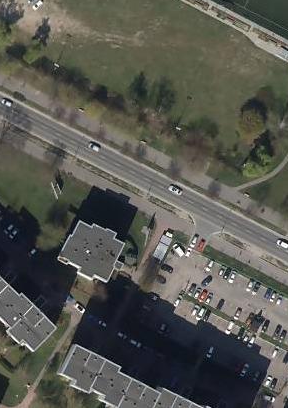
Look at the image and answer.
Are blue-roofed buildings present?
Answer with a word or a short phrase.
No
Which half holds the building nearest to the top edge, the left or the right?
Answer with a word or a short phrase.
left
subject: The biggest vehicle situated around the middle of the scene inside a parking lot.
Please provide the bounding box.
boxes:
[156,232,172,260]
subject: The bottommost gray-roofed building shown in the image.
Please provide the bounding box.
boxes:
[56,345,202,408]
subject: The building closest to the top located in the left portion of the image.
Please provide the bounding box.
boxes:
[58,221,125,283]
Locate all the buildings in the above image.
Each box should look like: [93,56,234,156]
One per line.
[0,277,56,353]
[58,221,125,283]
[56,345,202,408]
